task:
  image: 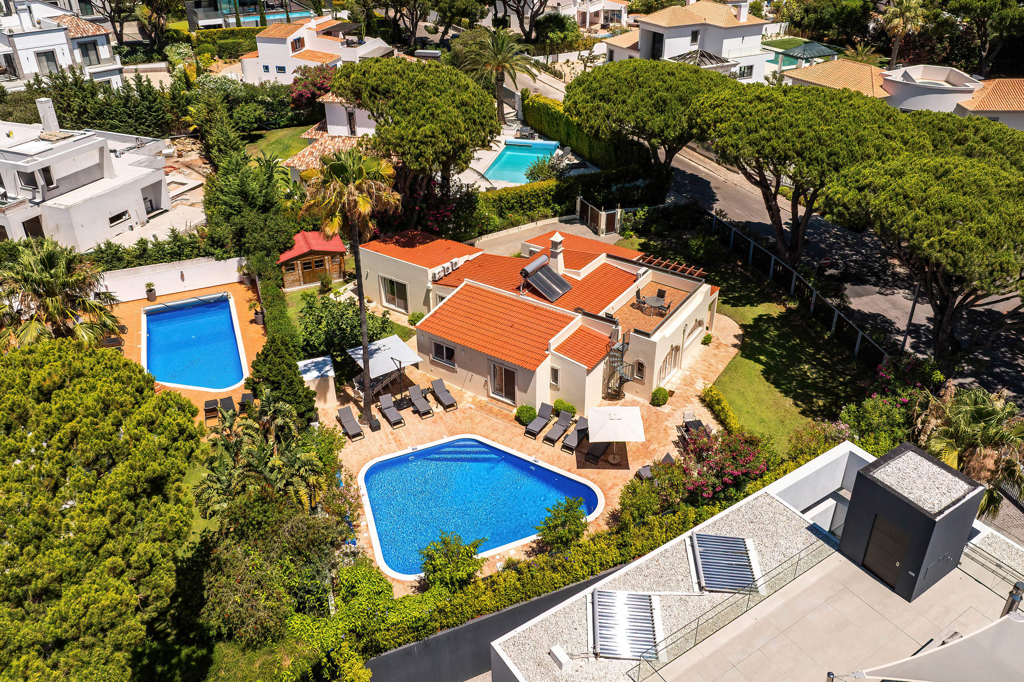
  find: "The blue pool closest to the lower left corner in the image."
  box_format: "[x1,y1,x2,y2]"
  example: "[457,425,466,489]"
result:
[141,297,247,390]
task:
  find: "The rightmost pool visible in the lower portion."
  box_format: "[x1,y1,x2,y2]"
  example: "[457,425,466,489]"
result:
[357,428,603,576]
